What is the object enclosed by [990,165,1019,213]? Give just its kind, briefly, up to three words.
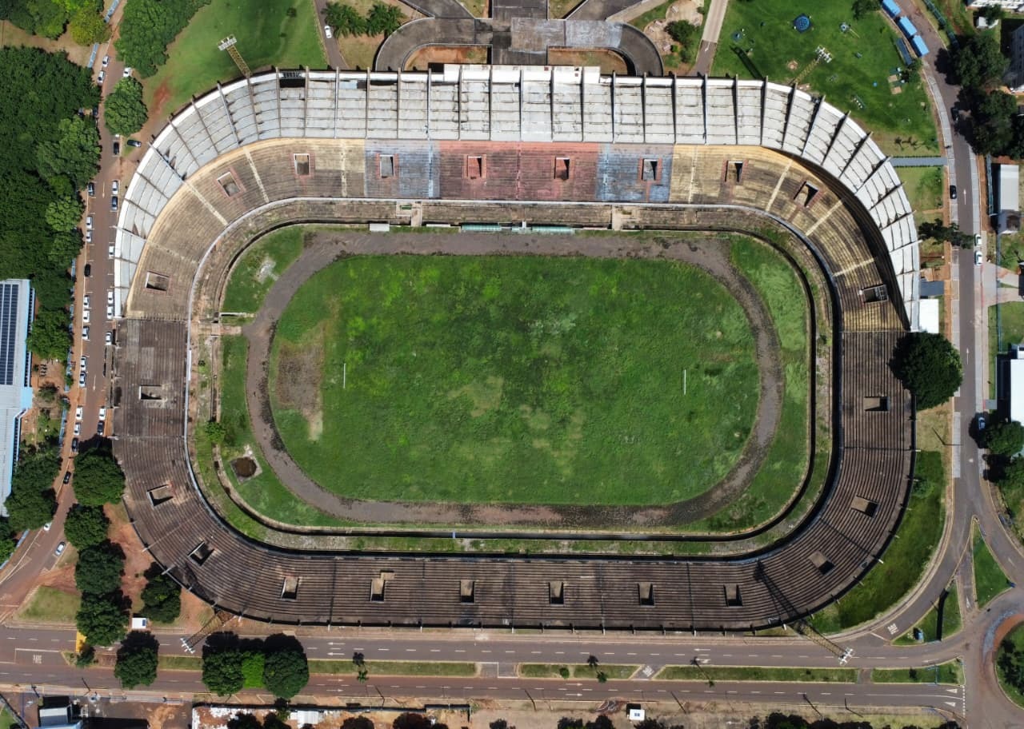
building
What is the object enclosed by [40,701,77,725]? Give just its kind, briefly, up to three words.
house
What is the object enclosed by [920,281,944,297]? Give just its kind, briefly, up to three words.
shed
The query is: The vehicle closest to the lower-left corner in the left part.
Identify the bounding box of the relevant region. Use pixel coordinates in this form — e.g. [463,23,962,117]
[54,541,66,556]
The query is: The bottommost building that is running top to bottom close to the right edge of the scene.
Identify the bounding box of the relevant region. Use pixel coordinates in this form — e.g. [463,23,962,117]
[994,359,1024,425]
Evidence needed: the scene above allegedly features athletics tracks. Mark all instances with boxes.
[248,229,785,528]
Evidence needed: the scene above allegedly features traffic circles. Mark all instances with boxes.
[918,543,1024,729]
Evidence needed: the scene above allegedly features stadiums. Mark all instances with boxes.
[103,63,927,639]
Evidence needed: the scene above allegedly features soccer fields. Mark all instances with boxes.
[268,252,761,505]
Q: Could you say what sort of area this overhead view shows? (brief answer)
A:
sports ground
